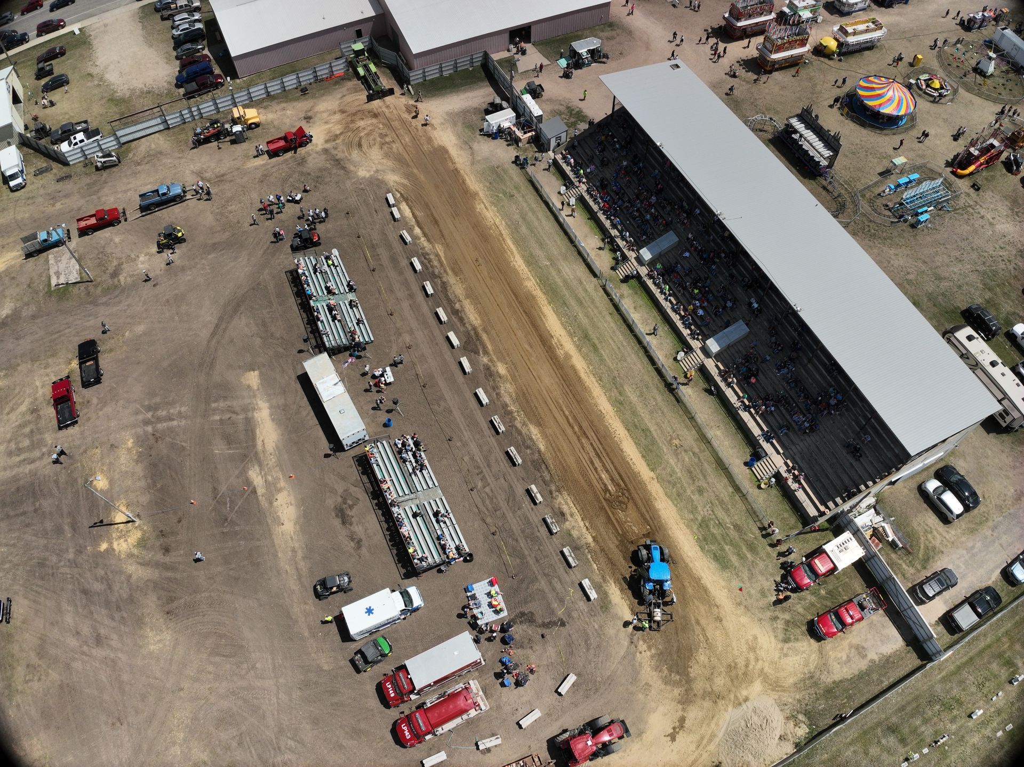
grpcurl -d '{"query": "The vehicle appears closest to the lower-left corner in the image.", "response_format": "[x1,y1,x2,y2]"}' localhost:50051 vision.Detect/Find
[0,599,21,623]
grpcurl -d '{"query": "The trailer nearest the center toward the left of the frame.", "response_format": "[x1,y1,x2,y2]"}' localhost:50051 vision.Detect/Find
[307,353,370,458]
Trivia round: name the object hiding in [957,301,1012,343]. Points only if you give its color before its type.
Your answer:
black car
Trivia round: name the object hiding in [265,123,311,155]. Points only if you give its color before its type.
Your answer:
red truck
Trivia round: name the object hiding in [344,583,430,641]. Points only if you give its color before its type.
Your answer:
white van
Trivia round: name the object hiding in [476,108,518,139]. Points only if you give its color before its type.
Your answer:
white trailer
